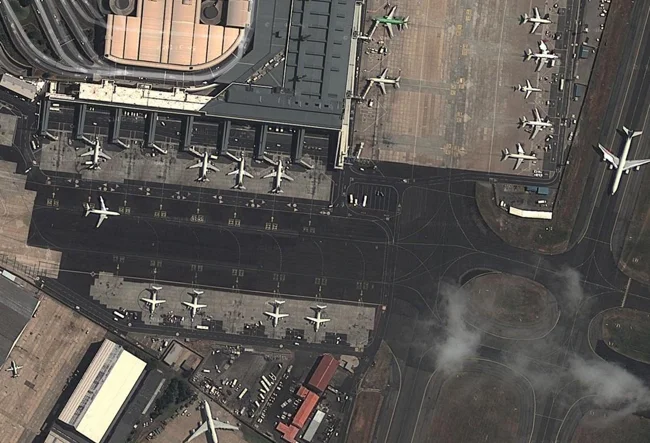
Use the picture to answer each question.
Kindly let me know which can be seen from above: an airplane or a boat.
airplane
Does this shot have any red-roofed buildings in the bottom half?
Yes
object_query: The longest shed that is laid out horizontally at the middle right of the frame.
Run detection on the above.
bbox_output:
[509,207,553,219]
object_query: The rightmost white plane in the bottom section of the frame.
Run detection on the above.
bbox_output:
[307,304,331,332]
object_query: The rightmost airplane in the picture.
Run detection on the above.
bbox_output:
[597,129,650,195]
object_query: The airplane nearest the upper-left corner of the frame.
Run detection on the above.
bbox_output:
[80,136,112,169]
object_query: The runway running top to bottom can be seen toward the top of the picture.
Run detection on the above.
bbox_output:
[571,0,650,261]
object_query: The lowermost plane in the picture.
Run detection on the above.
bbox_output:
[189,400,240,443]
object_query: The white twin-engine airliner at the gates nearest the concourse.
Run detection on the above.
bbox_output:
[263,161,292,192]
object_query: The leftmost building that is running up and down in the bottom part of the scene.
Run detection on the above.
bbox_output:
[0,274,39,369]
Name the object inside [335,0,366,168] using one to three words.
building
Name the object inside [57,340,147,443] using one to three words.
hangar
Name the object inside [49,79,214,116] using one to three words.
building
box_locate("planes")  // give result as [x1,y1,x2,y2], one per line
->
[80,136,112,169]
[519,108,553,139]
[597,129,650,195]
[189,152,220,181]
[525,40,560,70]
[307,304,331,332]
[263,161,292,192]
[189,400,240,443]
[368,67,400,93]
[501,142,536,168]
[142,286,167,314]
[265,300,290,327]
[521,7,552,33]
[226,157,254,189]
[86,196,120,228]
[373,6,409,36]
[184,289,209,317]
[514,79,543,100]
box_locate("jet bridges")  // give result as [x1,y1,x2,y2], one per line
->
[357,141,365,159]
[224,151,241,162]
[80,135,96,145]
[262,157,279,167]
[299,159,315,169]
[116,139,133,150]
[368,22,379,40]
[187,147,204,157]
[361,80,373,100]
[150,142,168,153]
[43,131,59,141]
